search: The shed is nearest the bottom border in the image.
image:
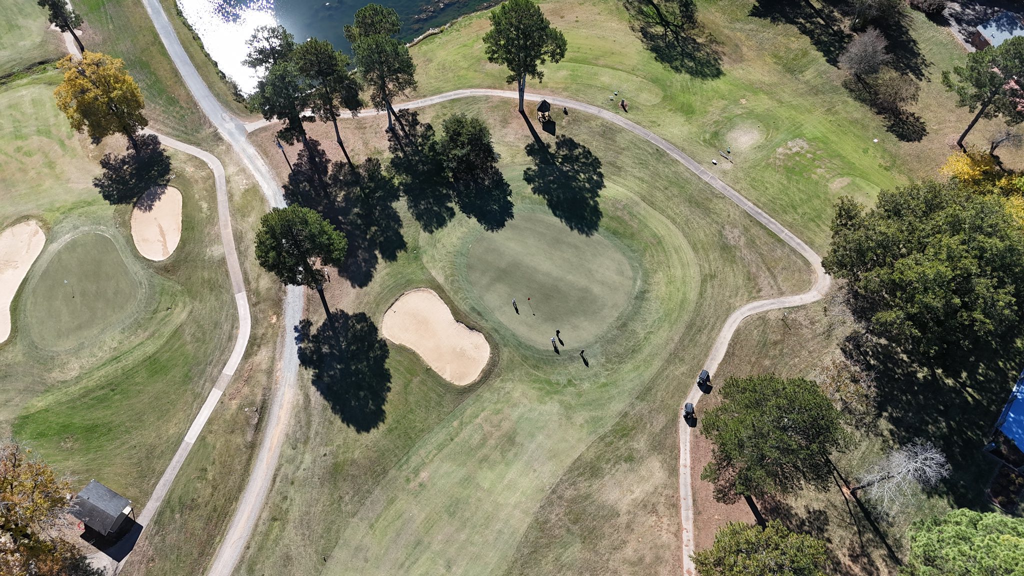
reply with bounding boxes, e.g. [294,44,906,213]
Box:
[68,480,137,538]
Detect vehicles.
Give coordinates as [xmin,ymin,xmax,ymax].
[683,402,694,419]
[696,369,709,386]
